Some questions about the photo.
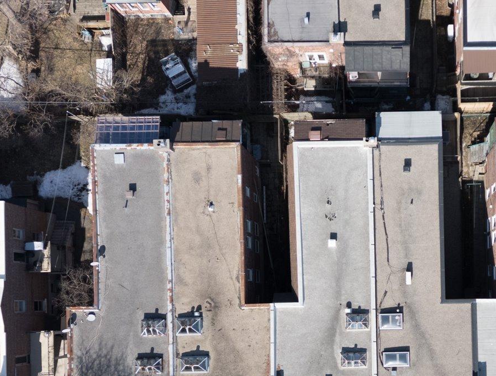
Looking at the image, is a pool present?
No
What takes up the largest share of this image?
buildings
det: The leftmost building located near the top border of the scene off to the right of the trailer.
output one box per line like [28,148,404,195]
[197,0,256,120]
